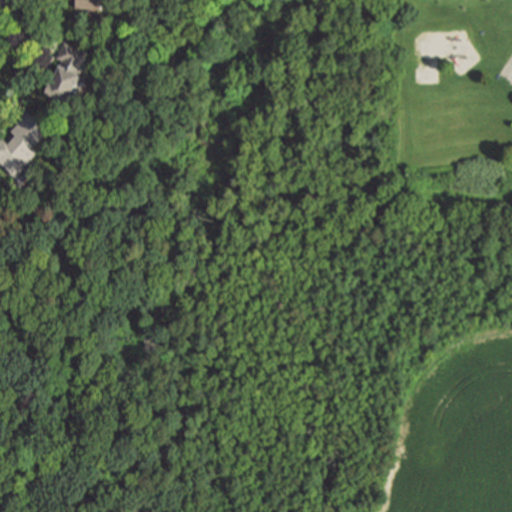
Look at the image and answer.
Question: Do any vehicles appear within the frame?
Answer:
No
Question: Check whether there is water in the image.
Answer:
No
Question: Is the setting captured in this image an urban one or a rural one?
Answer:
rural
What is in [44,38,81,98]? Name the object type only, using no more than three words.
house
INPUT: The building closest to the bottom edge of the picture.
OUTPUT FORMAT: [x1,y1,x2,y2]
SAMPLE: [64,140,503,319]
[0,122,42,180]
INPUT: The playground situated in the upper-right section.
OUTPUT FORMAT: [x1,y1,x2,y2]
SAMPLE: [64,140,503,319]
[415,29,481,84]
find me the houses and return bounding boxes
[44,38,81,98]
[0,122,42,180]
[74,0,103,14]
